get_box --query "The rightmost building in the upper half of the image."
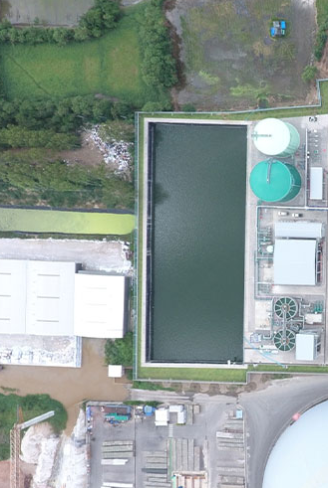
[309,166,325,201]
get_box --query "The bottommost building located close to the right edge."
[294,333,319,362]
